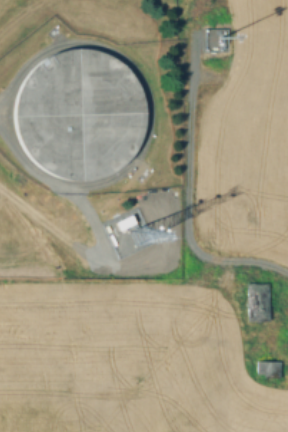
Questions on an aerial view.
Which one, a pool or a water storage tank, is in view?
water storage tank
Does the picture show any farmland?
Yes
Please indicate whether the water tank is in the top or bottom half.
top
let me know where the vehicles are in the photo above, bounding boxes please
[106,224,113,234]
[110,235,118,246]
